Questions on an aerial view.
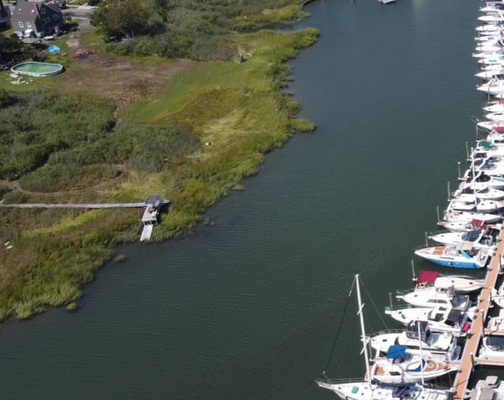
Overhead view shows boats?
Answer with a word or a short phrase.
Yes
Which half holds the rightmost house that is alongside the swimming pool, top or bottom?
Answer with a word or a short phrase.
top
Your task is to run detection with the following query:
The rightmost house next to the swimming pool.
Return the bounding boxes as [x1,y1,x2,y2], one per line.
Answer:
[10,0,67,38]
